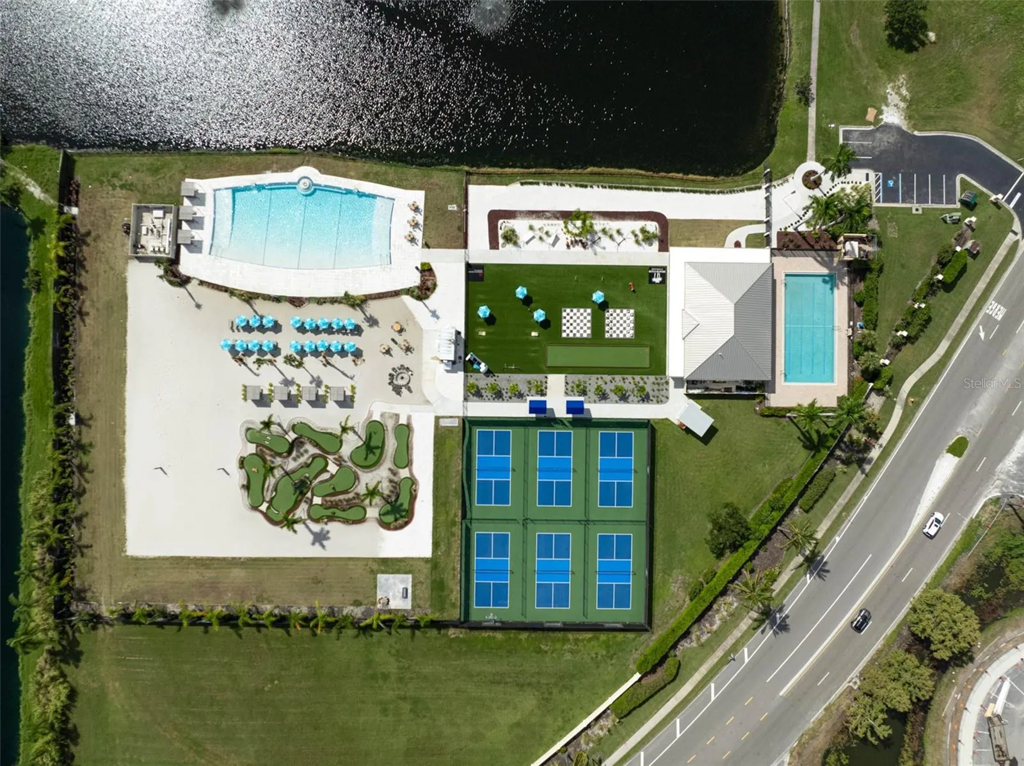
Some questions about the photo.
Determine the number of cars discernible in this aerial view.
2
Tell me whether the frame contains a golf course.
Yes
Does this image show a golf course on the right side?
No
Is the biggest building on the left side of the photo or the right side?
right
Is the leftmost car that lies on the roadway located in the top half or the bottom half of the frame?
bottom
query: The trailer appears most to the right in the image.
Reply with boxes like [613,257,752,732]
[989,716,1012,766]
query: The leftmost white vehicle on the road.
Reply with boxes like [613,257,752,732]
[922,512,943,539]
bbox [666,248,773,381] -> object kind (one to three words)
building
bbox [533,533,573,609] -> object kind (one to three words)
sports court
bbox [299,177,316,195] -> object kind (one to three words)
fountain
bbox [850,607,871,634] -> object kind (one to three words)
car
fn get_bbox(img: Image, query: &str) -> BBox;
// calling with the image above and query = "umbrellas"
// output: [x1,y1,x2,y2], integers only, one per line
[593,291,605,303]
[220,339,232,352]
[248,340,261,351]
[479,306,491,319]
[262,317,275,328]
[290,316,303,328]
[235,314,247,326]
[344,341,356,353]
[317,340,330,351]
[516,287,528,299]
[317,318,329,329]
[290,339,302,352]
[263,339,275,351]
[332,318,344,331]
[304,339,316,351]
[344,318,356,330]
[305,318,317,331]
[534,309,545,321]
[235,339,247,352]
[249,314,260,327]
[330,340,342,352]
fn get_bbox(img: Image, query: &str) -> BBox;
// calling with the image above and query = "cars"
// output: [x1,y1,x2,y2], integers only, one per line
[850,607,871,634]
[922,512,943,539]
